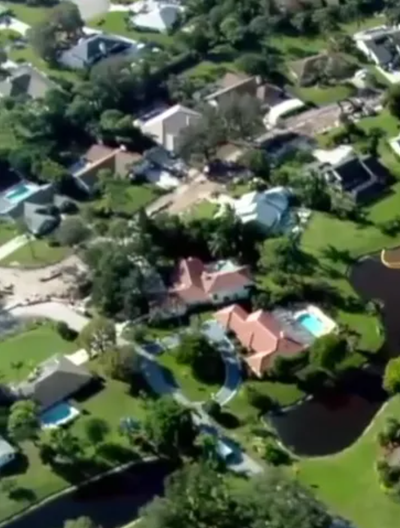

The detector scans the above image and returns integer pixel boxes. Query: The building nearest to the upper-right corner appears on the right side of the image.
[353,23,400,75]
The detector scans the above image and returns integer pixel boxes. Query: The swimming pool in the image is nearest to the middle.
[207,259,238,276]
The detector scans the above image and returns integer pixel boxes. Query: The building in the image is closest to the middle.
[165,258,259,314]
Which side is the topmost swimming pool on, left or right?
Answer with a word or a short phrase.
left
